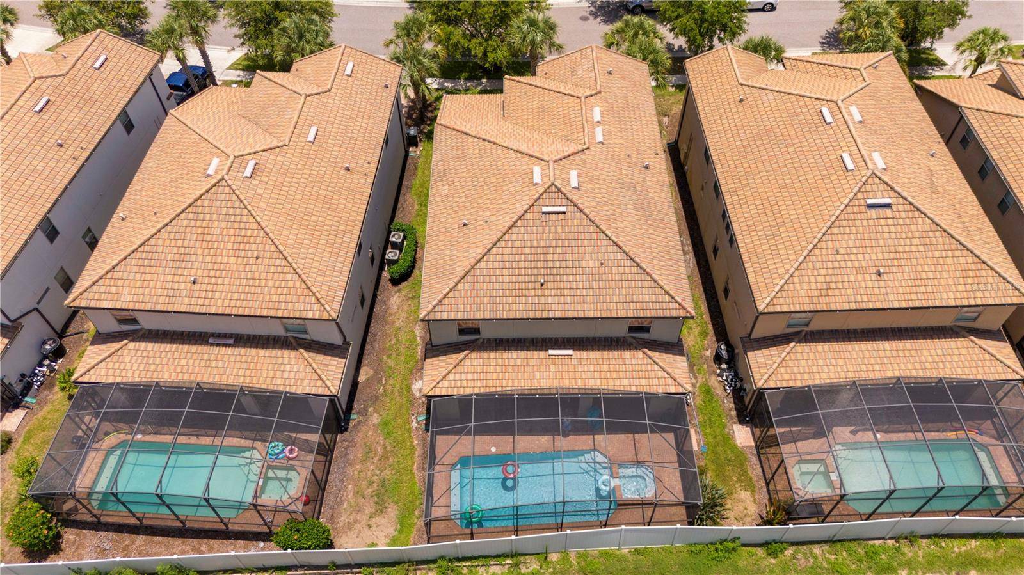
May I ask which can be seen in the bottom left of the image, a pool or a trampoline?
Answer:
pool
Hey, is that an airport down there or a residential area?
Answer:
residential area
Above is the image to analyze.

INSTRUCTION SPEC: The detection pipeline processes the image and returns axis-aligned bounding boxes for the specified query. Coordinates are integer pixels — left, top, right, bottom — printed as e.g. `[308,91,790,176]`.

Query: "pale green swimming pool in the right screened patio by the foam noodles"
[823,433,1012,494]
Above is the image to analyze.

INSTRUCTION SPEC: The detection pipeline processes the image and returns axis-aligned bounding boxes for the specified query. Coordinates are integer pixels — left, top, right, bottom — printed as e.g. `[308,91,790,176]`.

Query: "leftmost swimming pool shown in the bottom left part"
[85,434,270,504]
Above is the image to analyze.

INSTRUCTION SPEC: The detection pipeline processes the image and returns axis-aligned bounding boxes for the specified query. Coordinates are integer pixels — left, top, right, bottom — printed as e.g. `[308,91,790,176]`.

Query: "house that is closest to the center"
[416,43,697,413]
